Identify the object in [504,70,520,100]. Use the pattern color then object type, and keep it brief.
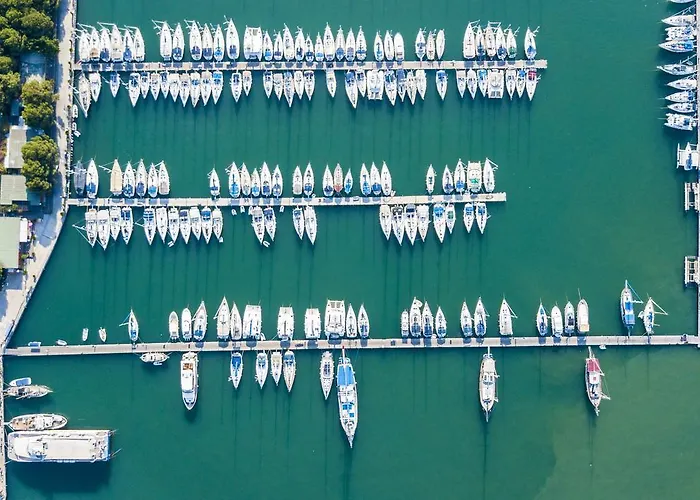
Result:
white boat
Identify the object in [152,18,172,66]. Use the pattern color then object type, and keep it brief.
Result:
white boat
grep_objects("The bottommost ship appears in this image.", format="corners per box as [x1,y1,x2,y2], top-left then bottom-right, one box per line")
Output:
[4,423,123,463]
